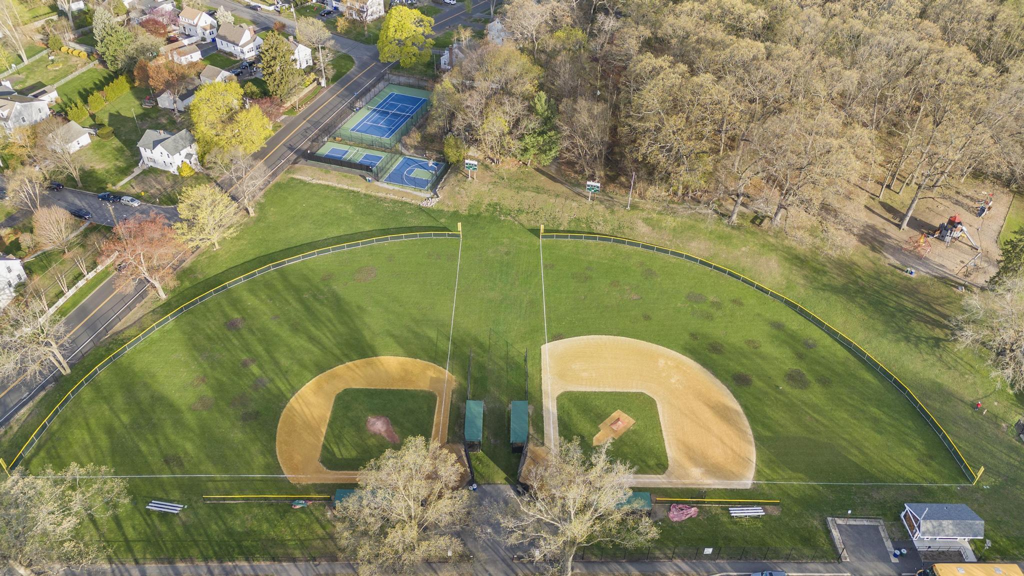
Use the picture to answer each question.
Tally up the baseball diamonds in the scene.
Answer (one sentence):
I count 2 baseball diamonds.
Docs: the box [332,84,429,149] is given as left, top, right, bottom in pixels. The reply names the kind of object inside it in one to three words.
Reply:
tennis court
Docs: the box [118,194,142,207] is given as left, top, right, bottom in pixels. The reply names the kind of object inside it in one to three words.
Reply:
vehicle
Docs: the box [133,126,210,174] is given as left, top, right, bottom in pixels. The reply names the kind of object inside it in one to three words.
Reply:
house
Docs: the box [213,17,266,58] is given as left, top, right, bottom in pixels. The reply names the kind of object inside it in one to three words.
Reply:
house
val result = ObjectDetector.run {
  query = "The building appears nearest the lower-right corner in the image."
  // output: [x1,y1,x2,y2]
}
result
[897,503,986,549]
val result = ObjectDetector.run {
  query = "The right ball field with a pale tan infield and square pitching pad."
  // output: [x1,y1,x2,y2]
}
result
[521,239,973,496]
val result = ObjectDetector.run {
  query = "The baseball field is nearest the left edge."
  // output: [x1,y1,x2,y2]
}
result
[11,237,474,495]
